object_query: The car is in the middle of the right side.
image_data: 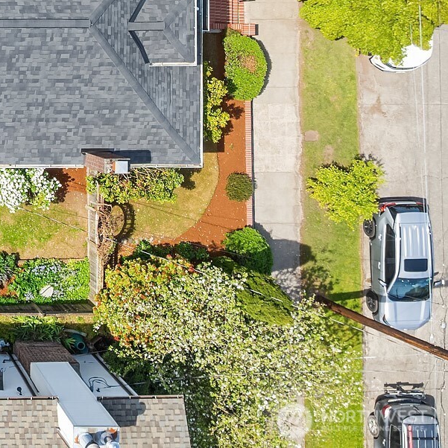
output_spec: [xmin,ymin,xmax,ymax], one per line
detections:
[363,198,436,326]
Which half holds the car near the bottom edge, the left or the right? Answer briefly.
right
